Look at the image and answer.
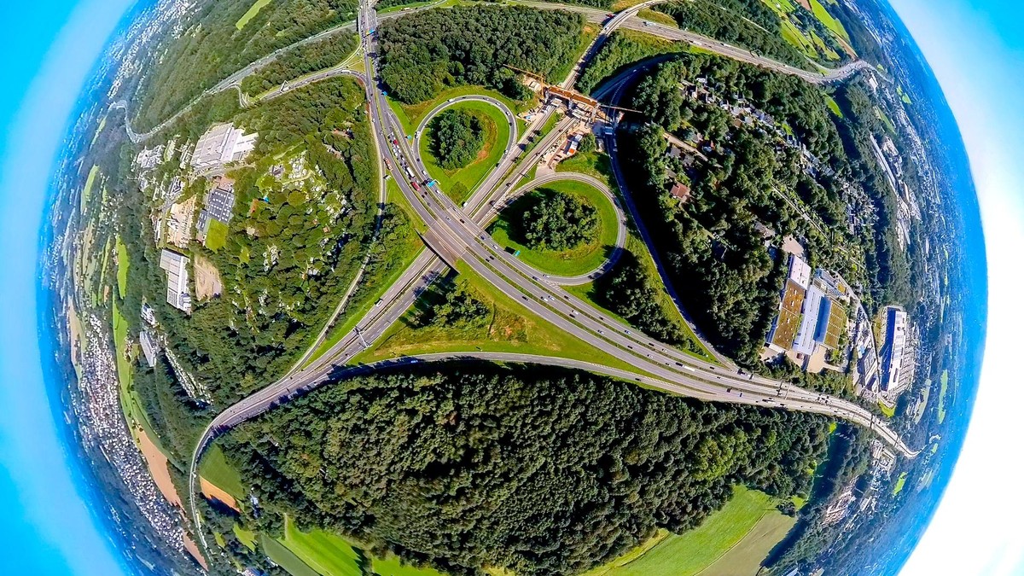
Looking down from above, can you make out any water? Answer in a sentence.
No, there's no water in this view.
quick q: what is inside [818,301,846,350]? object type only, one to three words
building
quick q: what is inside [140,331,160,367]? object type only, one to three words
building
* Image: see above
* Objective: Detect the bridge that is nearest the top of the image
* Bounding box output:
[544,86,597,113]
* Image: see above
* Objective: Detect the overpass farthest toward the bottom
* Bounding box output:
[414,205,490,274]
